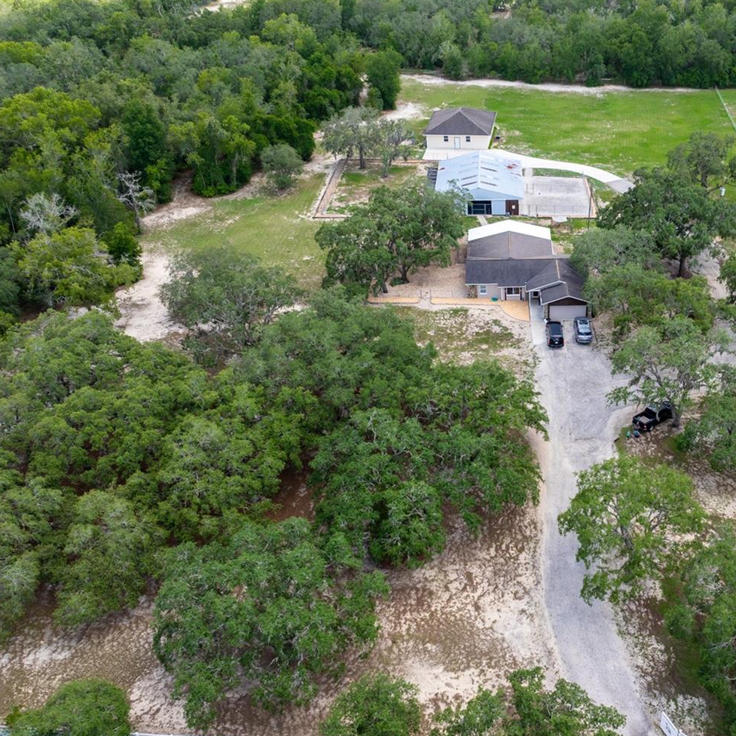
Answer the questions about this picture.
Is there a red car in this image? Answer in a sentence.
No, the frame has no red car in it.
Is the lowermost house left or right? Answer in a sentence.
The lowermost house sits on the right side.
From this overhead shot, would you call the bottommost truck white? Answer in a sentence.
No, the color of the bottommost truck is black.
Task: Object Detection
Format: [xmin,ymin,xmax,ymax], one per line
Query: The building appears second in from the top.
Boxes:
[429,148,523,216]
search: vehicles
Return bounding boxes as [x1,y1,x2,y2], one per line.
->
[638,398,677,433]
[575,316,594,339]
[546,319,565,343]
